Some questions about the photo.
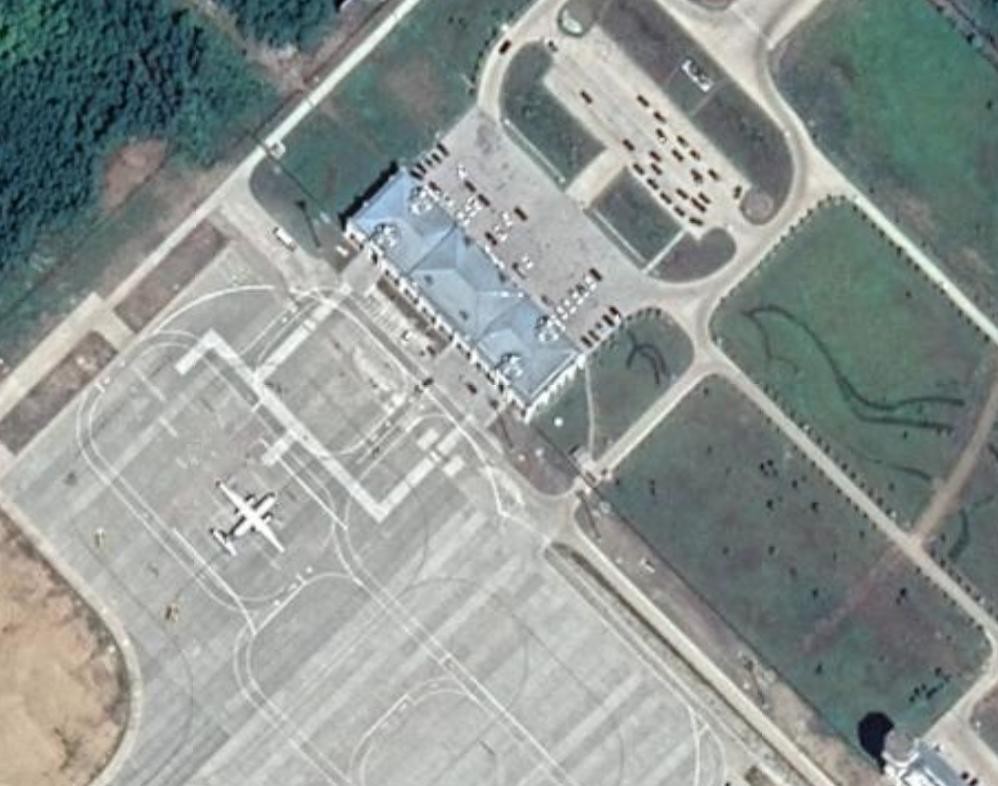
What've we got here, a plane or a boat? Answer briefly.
plane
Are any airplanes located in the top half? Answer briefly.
No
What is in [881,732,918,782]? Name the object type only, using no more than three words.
building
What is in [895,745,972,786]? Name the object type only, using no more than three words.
building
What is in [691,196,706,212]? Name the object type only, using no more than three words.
vehicle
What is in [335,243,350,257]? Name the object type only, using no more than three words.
vehicle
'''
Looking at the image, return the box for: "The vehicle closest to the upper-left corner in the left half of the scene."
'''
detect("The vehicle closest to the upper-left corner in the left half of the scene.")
[275,226,294,247]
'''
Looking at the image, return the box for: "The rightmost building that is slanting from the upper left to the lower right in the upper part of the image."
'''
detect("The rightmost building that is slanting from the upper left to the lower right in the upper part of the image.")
[346,169,587,420]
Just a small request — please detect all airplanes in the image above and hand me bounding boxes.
[213,482,288,553]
